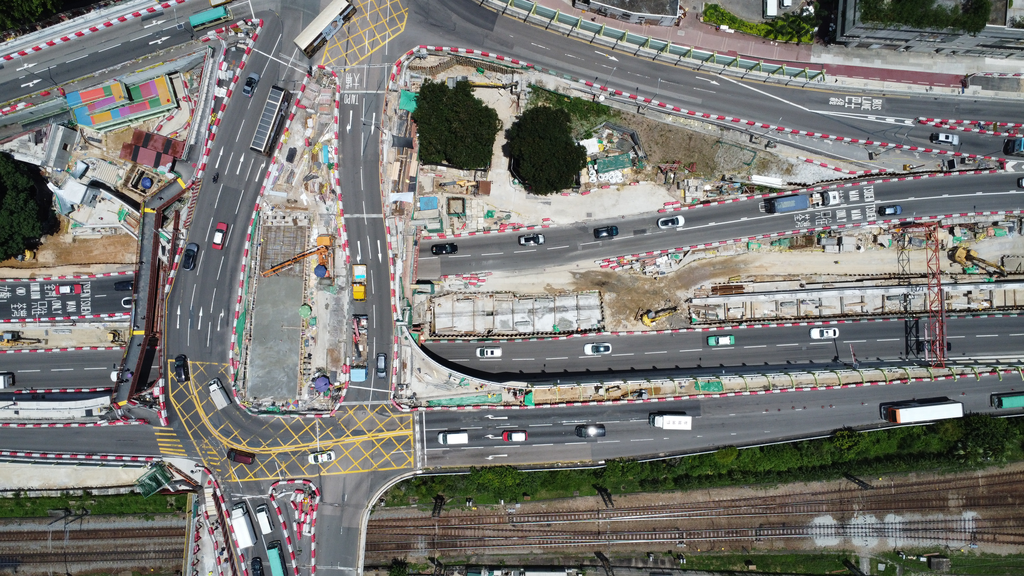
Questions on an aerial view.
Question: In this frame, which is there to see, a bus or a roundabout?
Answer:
bus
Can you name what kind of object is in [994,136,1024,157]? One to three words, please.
bus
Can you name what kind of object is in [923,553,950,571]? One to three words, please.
shed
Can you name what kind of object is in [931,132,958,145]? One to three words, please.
vehicle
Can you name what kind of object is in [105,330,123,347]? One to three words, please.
work vehicle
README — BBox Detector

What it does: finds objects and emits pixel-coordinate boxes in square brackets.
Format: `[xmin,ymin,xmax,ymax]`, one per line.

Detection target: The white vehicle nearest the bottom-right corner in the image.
[876,400,964,425]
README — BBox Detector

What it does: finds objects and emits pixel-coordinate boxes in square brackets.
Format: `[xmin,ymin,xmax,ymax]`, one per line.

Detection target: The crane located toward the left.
[259,231,344,282]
